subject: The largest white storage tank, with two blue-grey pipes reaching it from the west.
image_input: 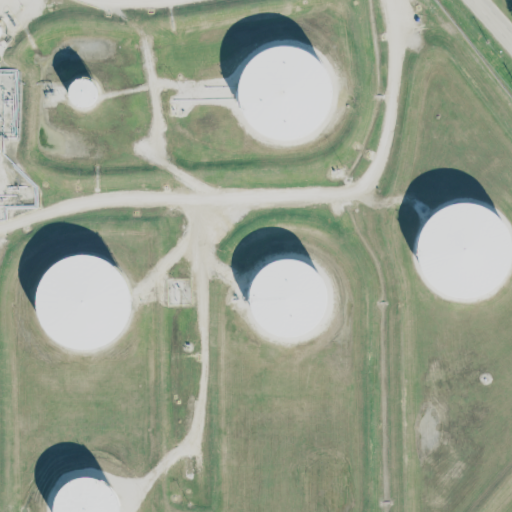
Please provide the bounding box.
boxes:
[236,46,332,140]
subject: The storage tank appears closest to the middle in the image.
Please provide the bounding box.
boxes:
[248,259,328,337]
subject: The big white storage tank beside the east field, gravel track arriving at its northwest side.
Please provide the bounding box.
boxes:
[416,204,512,298]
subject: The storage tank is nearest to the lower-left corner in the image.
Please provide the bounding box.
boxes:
[50,476,118,512]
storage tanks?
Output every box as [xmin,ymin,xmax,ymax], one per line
[248,259,328,337]
[34,254,132,350]
[50,476,118,512]
[236,46,332,140]
[67,78,99,112]
[416,204,512,298]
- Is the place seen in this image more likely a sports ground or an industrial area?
industrial area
